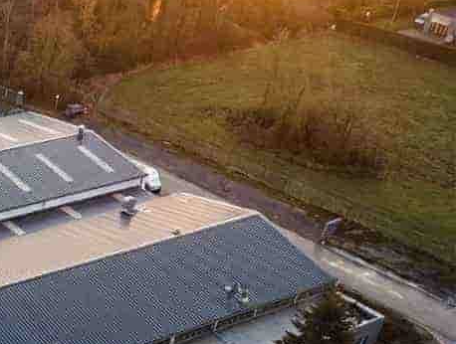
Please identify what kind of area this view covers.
industrial area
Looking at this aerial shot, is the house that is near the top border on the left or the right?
right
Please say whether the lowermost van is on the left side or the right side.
left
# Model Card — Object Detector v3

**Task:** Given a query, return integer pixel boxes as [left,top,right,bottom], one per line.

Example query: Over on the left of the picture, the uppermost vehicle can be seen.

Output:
[61,100,90,118]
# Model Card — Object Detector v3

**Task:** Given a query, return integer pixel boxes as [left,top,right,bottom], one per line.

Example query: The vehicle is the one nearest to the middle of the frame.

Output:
[141,162,176,195]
